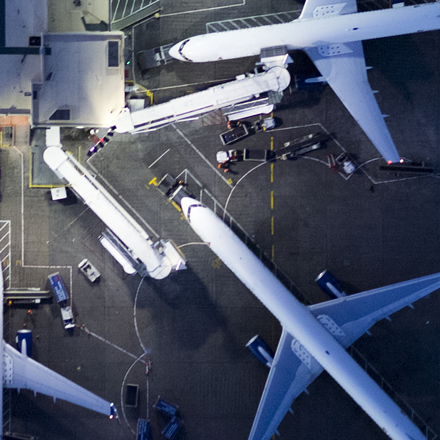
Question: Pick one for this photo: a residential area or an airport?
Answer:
airport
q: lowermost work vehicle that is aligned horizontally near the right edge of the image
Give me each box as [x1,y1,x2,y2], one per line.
[381,158,433,174]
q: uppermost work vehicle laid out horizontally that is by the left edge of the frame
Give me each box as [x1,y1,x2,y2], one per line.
[4,288,54,302]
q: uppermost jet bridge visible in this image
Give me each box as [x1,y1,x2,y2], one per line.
[116,54,297,139]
